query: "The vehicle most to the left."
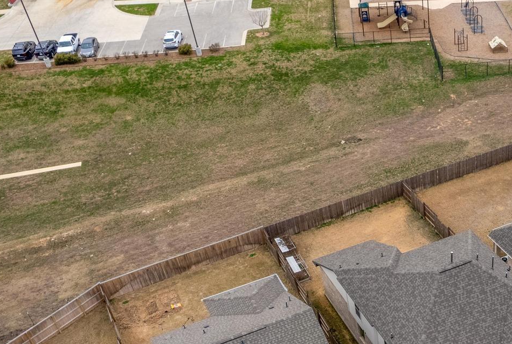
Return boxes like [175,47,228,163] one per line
[12,40,36,57]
